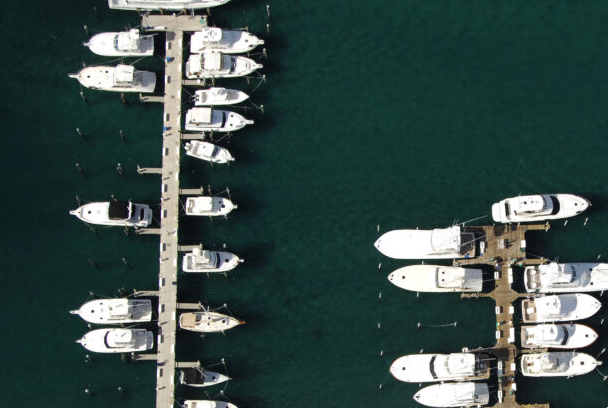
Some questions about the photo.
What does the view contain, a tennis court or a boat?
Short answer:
boat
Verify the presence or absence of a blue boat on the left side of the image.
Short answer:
No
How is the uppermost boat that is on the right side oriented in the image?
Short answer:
from side to side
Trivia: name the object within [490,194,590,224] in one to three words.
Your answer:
boat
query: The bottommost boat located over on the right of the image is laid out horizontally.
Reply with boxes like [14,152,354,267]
[413,377,494,408]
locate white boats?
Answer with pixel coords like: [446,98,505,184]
[381,257,498,295]
[521,292,602,324]
[509,319,603,349]
[82,25,162,60]
[180,20,265,55]
[66,60,164,97]
[75,322,154,356]
[180,307,246,333]
[490,194,590,224]
[69,292,159,325]
[176,400,237,408]
[517,263,608,292]
[185,106,253,135]
[374,217,496,261]
[517,345,605,379]
[183,52,264,81]
[68,198,161,229]
[383,345,512,384]
[185,193,238,219]
[182,137,235,163]
[413,377,494,408]
[180,252,245,276]
[183,82,249,107]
